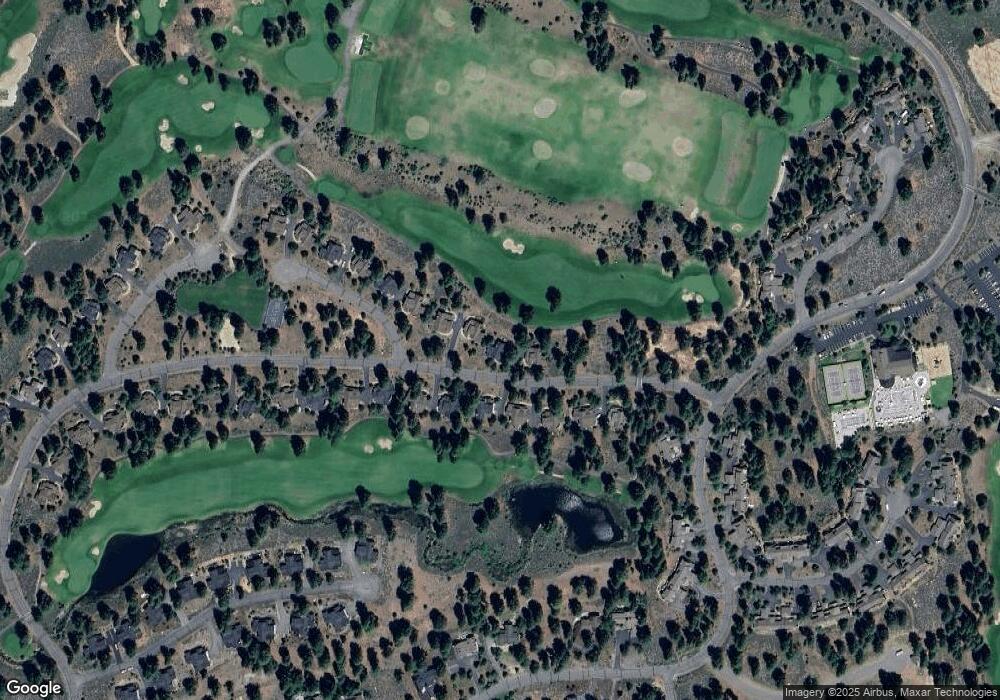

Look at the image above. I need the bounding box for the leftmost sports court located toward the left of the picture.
[265,299,286,328]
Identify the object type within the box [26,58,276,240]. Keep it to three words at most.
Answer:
golf course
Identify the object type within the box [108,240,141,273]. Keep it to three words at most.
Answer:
house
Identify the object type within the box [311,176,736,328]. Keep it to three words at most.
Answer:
golf course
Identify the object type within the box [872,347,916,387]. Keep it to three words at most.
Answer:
building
